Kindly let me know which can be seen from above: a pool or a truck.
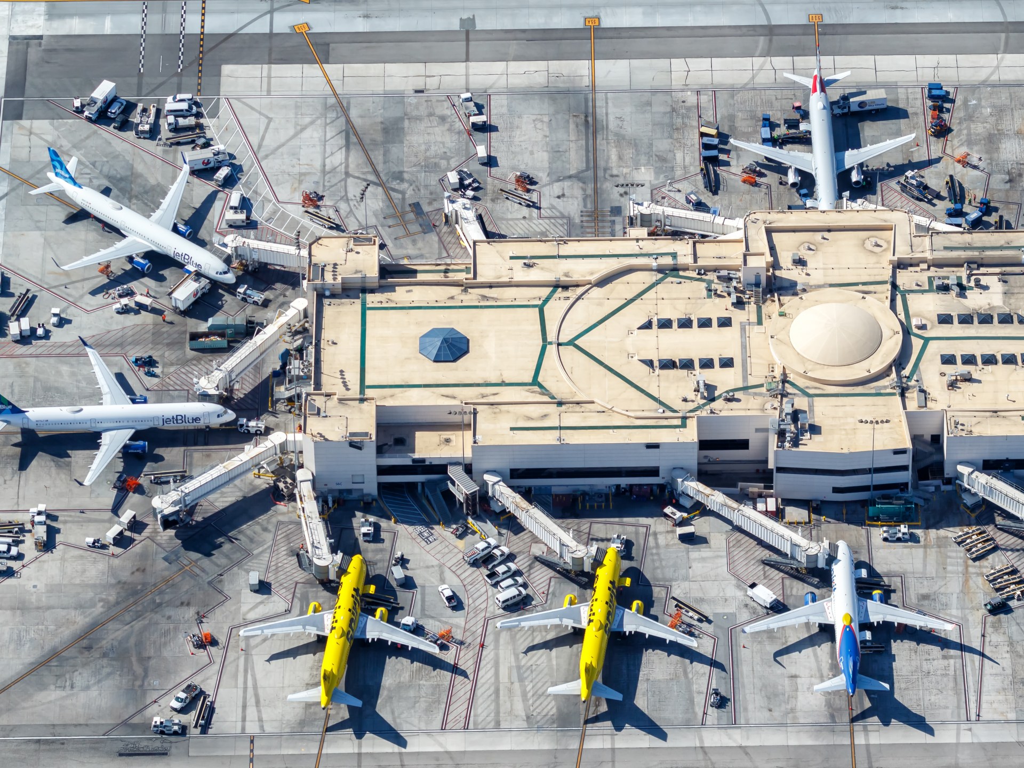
truck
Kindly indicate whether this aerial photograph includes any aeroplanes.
Yes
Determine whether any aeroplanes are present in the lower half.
Yes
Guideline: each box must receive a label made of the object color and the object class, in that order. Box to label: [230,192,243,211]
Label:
white vehicle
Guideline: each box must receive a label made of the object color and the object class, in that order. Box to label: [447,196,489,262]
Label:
white jet bridge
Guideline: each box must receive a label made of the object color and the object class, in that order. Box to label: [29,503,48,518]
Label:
white work vehicle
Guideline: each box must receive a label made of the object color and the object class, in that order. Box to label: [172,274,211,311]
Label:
white truck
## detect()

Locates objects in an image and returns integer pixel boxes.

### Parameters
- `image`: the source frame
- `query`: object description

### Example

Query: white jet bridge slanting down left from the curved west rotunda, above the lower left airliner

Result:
[202,300,308,403]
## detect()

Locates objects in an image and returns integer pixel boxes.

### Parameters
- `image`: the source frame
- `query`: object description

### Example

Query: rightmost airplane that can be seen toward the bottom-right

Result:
[741,542,956,698]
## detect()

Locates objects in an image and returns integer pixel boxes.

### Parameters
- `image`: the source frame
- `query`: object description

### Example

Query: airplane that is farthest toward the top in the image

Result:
[729,51,916,211]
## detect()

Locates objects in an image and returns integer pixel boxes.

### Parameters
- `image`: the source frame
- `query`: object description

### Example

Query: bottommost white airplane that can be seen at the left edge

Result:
[0,335,237,485]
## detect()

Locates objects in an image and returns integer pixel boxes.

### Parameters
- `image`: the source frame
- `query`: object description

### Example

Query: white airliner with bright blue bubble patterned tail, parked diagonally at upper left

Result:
[29,150,236,284]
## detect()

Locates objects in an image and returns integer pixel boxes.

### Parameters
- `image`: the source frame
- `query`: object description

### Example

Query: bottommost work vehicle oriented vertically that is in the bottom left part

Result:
[194,692,209,730]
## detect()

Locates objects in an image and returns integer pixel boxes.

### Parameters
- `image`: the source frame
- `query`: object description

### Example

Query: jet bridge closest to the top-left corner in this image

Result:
[210,235,309,281]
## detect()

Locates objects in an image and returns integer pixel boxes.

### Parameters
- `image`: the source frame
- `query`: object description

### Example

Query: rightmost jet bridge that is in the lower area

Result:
[959,466,1024,525]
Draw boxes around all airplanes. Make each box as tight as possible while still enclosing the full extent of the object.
[496,549,699,704]
[741,542,956,698]
[0,335,237,485]
[729,51,916,211]
[237,556,441,711]
[29,150,236,284]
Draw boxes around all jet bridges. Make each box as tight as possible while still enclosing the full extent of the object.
[631,203,744,239]
[447,196,489,262]
[202,300,308,403]
[210,235,309,281]
[296,471,352,580]
[959,466,1024,525]
[486,472,604,577]
[672,466,841,572]
[152,434,304,528]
